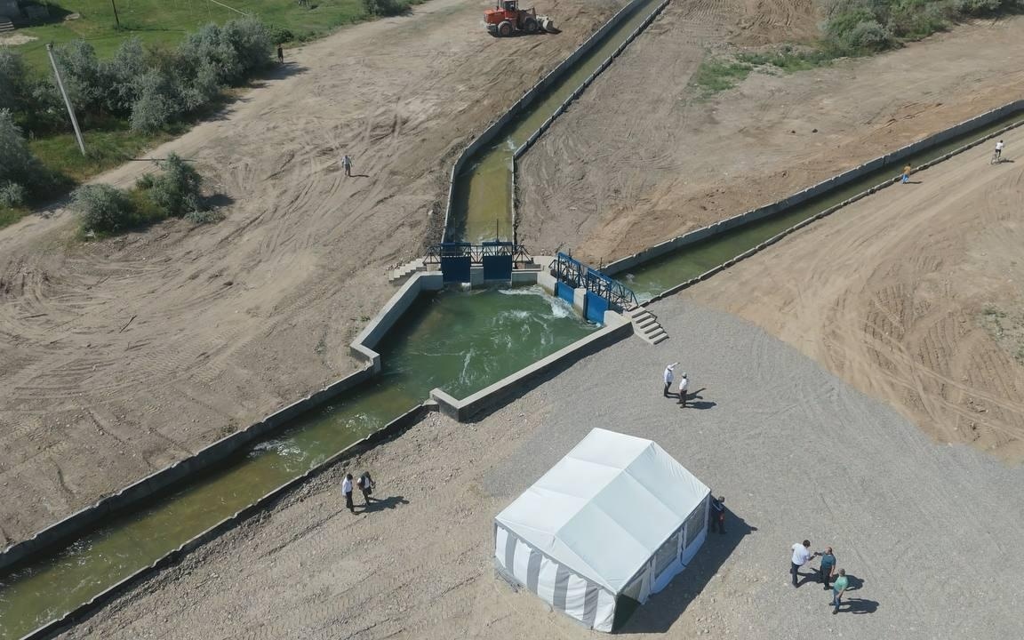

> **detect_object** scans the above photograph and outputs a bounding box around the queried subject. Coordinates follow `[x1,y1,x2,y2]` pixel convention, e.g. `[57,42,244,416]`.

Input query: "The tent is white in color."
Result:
[491,434,710,635]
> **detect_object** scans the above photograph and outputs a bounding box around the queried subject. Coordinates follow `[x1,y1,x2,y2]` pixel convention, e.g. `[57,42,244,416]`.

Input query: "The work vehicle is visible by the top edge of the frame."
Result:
[487,0,562,38]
